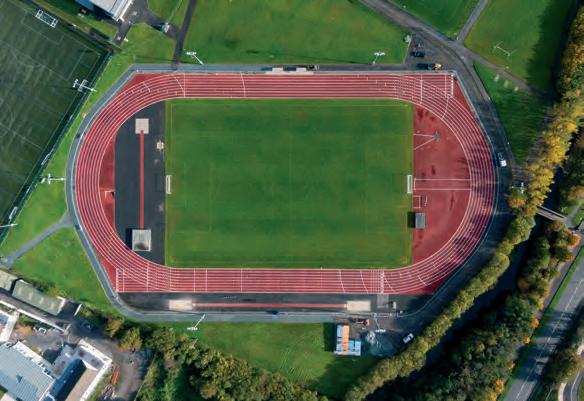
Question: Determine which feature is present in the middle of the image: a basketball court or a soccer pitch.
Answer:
soccer pitch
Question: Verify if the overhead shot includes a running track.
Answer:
Yes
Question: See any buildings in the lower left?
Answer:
Yes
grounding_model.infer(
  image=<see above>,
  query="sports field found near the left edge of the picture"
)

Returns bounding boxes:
[0,0,112,245]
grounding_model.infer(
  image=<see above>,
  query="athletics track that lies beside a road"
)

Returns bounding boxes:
[74,74,496,293]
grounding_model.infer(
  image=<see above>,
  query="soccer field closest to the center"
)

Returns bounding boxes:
[166,98,413,268]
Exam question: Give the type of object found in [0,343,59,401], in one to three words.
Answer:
building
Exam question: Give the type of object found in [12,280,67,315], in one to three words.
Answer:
building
